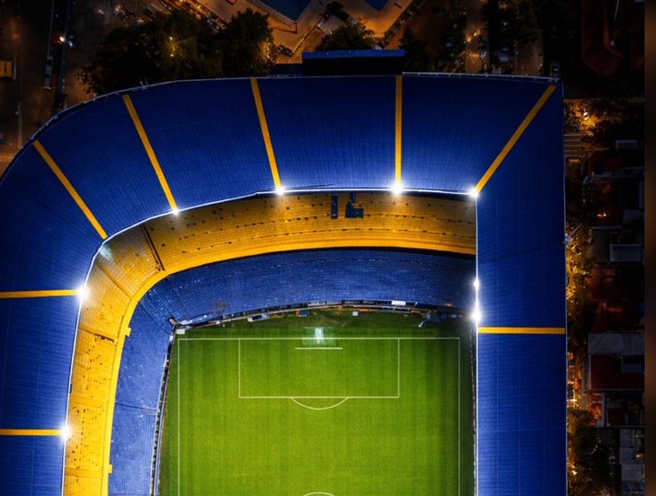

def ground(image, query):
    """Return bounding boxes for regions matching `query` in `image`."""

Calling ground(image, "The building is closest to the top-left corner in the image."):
[243,0,332,41]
